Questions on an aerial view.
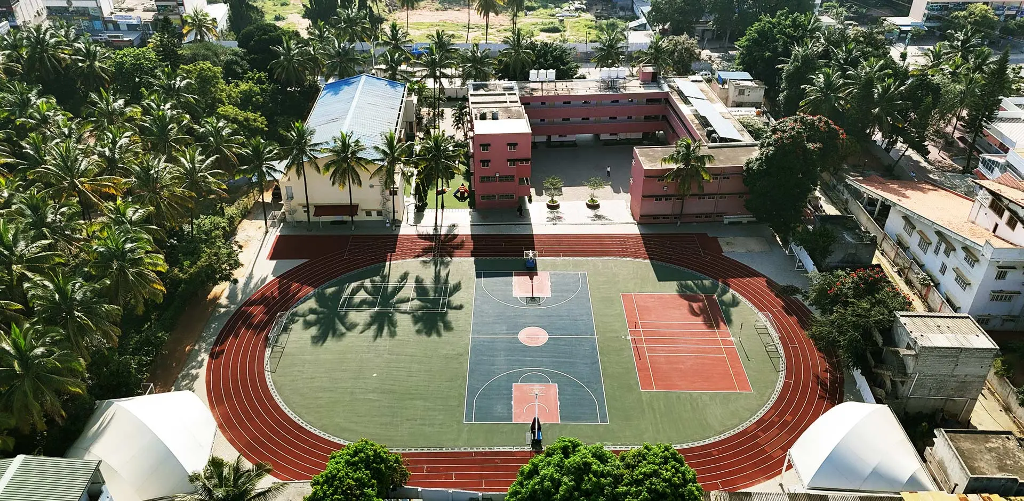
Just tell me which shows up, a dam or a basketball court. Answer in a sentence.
The image shows a basketball court.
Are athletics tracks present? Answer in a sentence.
Yes, an athletics track is visible in the scene.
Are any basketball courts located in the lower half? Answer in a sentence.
Yes, a basketball court shows up in the lower half.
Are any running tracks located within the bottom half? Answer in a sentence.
Yes, a running track is visible within the bottom half.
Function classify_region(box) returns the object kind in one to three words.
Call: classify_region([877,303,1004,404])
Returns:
house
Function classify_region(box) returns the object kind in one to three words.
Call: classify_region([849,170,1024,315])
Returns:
house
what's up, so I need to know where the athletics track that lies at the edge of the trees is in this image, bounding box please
[211,233,837,491]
